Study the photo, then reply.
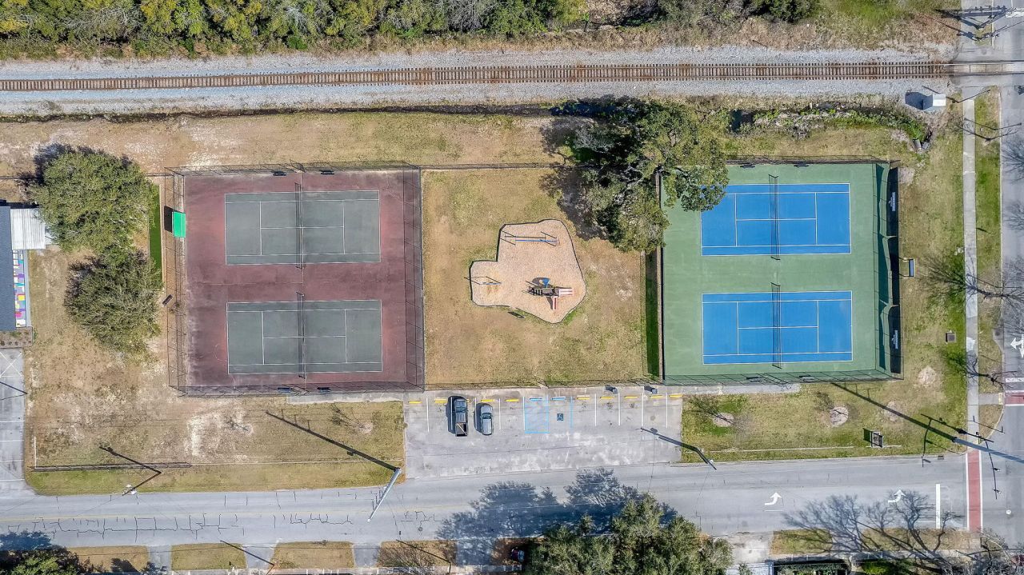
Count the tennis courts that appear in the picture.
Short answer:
4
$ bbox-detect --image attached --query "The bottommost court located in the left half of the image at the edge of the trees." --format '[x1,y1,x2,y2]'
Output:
[186,281,425,394]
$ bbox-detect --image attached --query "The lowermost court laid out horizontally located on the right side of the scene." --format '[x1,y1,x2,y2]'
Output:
[662,272,893,385]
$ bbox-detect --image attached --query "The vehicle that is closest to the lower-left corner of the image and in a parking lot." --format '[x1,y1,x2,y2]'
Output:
[453,399,469,438]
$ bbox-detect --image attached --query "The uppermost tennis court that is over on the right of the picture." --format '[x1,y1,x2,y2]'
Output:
[660,163,892,274]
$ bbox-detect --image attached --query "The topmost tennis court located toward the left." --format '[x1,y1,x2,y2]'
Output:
[185,169,424,284]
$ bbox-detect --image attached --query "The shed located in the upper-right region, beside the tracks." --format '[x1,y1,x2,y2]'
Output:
[921,93,946,112]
